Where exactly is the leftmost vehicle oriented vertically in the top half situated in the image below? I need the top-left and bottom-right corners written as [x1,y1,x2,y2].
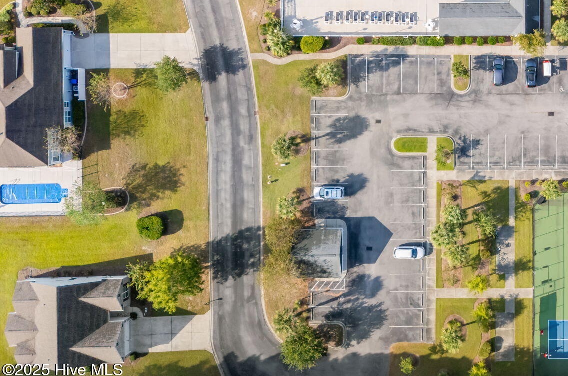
[492,58,506,86]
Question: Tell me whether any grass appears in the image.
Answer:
Yes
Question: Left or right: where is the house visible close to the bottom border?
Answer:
left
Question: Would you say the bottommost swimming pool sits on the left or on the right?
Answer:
left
